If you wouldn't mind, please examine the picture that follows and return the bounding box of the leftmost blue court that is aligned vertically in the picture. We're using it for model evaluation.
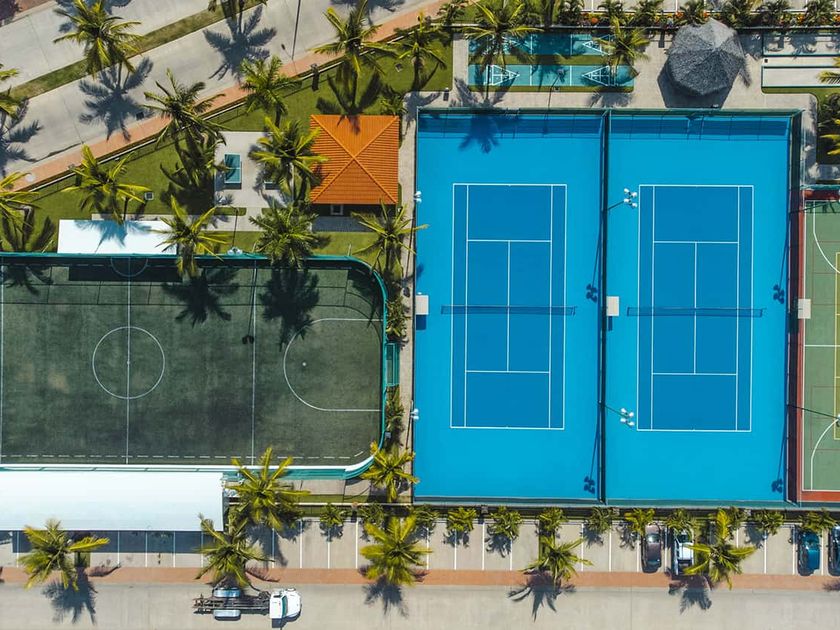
[413,116,602,498]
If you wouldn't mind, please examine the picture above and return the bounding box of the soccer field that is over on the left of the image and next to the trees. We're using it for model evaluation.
[0,258,384,467]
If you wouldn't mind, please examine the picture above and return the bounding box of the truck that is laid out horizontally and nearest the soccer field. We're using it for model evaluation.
[194,586,304,624]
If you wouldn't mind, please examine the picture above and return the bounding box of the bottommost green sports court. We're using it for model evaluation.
[797,190,840,500]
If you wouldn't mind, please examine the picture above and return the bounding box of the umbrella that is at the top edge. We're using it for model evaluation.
[664,15,750,100]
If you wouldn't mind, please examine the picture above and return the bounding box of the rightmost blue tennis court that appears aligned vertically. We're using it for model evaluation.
[605,116,790,500]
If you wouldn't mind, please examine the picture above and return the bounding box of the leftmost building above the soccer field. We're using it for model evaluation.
[308,113,399,204]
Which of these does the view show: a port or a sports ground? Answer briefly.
sports ground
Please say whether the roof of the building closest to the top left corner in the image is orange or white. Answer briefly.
orange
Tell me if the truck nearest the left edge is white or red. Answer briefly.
white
